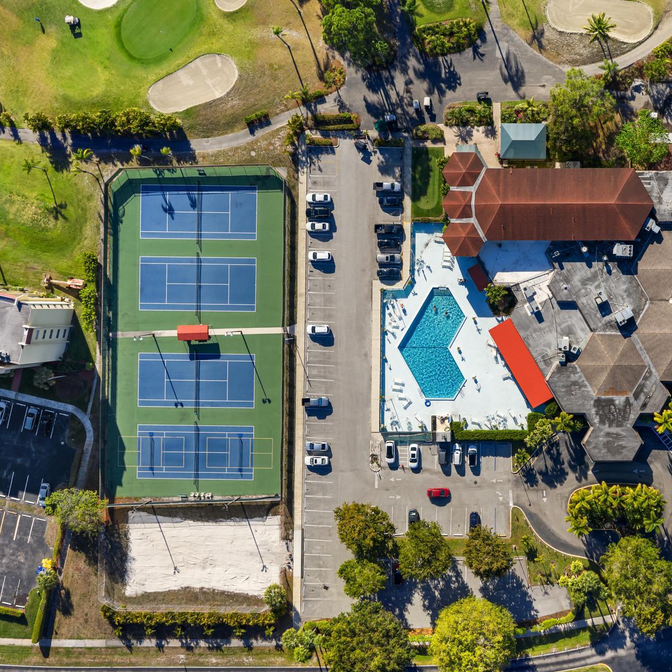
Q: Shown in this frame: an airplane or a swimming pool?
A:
swimming pool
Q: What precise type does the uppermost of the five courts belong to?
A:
tennis court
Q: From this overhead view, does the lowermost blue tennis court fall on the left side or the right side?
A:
left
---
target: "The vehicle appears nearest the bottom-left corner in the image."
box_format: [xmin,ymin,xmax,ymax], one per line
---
[35,483,50,507]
